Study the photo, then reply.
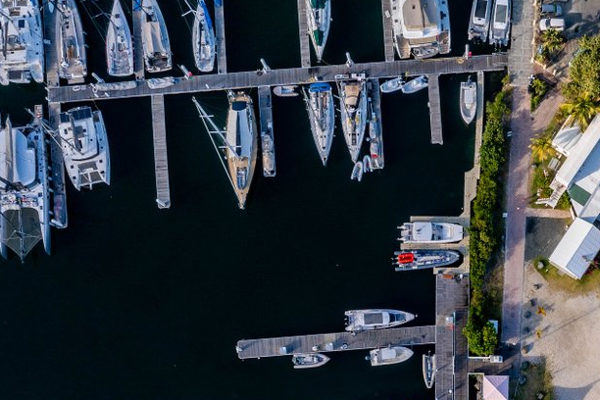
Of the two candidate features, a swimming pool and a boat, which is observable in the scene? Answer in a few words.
boat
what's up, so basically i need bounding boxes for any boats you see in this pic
[397,222,463,243]
[403,77,428,94]
[292,353,329,369]
[276,86,300,95]
[341,308,415,331]
[149,78,176,87]
[301,0,330,64]
[467,0,487,46]
[490,0,510,51]
[390,0,453,62]
[297,79,337,167]
[369,113,379,140]
[423,354,436,387]
[177,0,215,75]
[0,106,52,257]
[18,101,111,192]
[349,162,362,183]
[380,78,403,93]
[364,347,413,367]
[124,0,170,76]
[362,156,371,175]
[370,143,379,168]
[264,148,276,171]
[331,77,368,163]
[187,78,255,209]
[394,251,459,271]
[0,0,46,89]
[83,0,131,78]
[30,0,89,86]
[459,78,476,125]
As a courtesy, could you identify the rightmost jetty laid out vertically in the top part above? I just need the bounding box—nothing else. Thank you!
[428,75,443,145]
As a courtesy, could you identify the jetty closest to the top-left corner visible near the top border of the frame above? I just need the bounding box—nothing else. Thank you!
[44,0,60,87]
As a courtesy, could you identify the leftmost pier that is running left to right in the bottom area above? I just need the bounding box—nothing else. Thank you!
[237,326,436,360]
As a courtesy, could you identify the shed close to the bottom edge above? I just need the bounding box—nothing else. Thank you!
[483,376,509,400]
